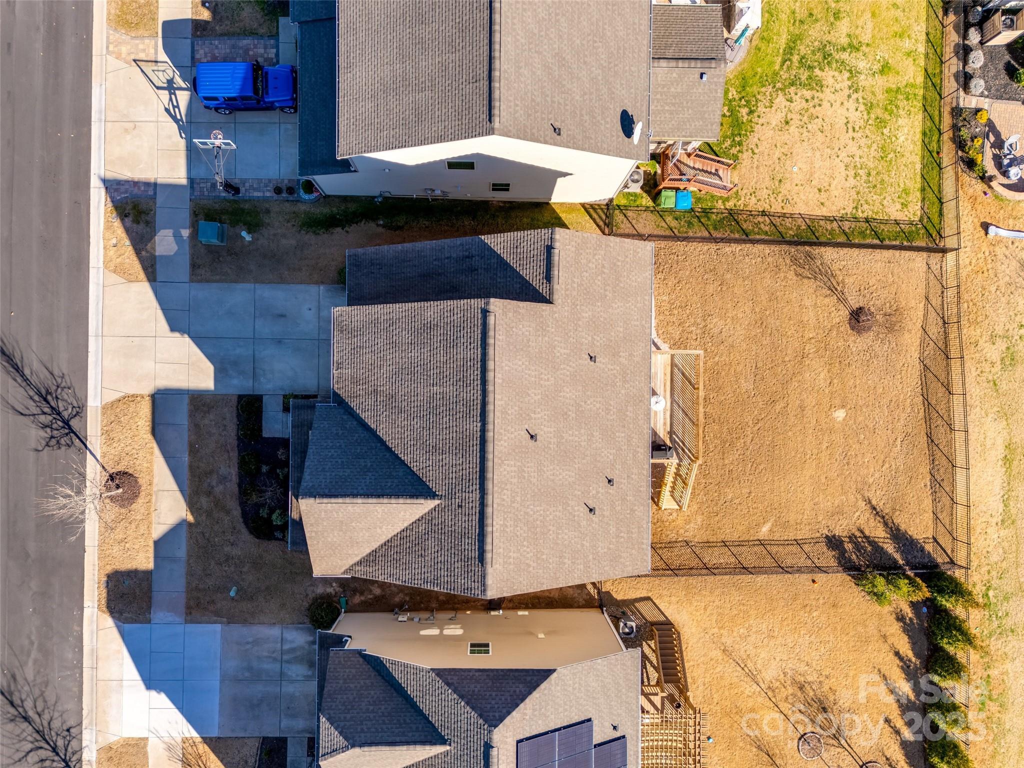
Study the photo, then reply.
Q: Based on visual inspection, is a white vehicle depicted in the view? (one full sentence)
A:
No, I find no white vehicle anywhere in the image.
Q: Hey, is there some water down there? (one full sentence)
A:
No, water can't be seen anywhere here.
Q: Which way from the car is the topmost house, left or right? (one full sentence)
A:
You can see the topmost house positioned to the right of the car.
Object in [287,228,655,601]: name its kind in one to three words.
house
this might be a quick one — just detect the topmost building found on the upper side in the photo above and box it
[288,0,727,205]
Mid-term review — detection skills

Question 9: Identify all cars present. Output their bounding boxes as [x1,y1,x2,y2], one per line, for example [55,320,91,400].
[191,61,296,116]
